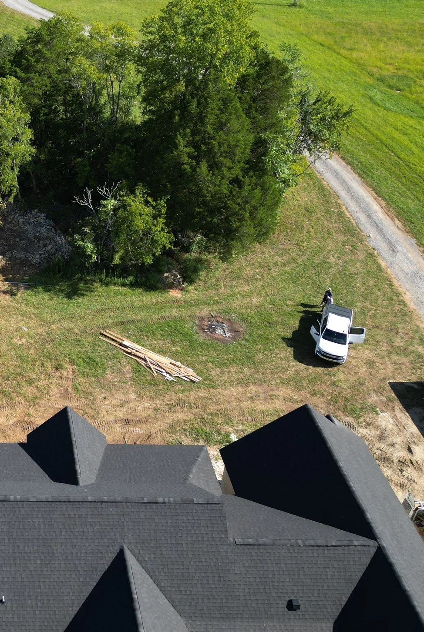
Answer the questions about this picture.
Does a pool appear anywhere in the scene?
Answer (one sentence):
No, there's no pool here.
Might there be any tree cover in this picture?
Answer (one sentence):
Yes, tree cover shows up in the scene.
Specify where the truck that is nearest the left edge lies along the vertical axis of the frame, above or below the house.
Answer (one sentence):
Relative to the house, the truck that is nearest the left edge lies above it.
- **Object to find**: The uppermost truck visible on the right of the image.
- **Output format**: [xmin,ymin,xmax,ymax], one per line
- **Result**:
[303,303,369,368]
